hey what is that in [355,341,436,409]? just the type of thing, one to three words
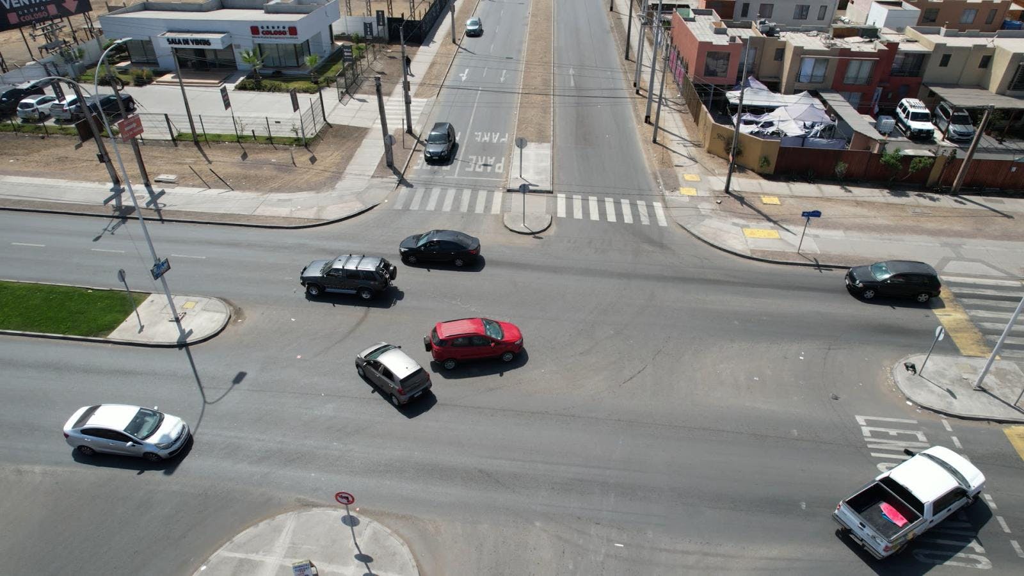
car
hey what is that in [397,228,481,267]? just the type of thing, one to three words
car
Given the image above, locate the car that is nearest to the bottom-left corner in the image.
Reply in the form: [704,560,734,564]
[60,401,189,462]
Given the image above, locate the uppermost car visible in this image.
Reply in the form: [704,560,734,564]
[464,14,483,34]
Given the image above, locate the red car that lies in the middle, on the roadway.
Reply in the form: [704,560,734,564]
[423,314,522,370]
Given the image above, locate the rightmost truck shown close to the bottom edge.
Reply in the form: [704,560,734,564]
[823,447,983,562]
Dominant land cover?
paved ground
